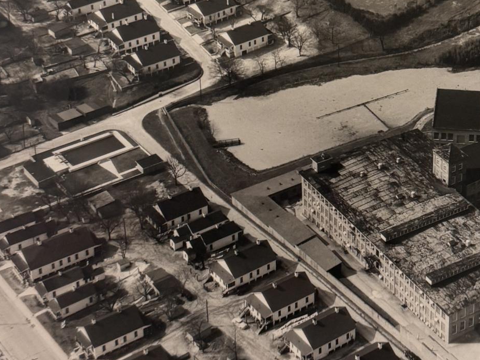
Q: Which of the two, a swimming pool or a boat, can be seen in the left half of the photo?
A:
swimming pool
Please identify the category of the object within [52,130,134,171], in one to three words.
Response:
swimming pool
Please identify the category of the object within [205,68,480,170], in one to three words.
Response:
pond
